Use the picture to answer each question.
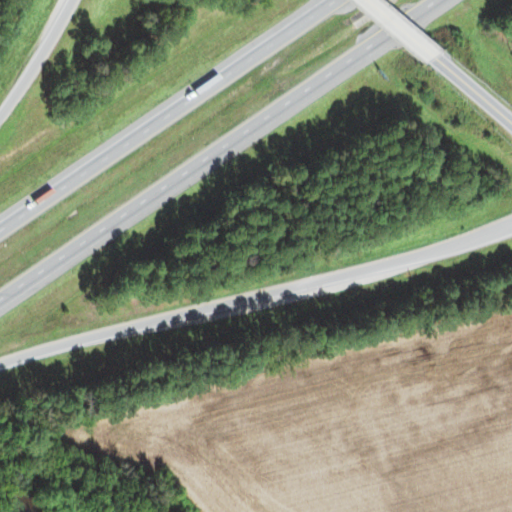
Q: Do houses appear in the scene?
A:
No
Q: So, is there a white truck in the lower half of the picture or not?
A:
No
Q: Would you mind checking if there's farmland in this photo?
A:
Yes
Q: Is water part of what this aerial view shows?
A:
No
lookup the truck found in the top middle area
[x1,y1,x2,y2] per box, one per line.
[185,73,222,100]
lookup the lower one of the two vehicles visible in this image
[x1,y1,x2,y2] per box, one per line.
[25,188,54,210]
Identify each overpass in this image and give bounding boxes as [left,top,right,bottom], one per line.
[354,0,449,68]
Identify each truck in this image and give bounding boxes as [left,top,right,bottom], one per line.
[185,73,222,100]
[25,188,54,210]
